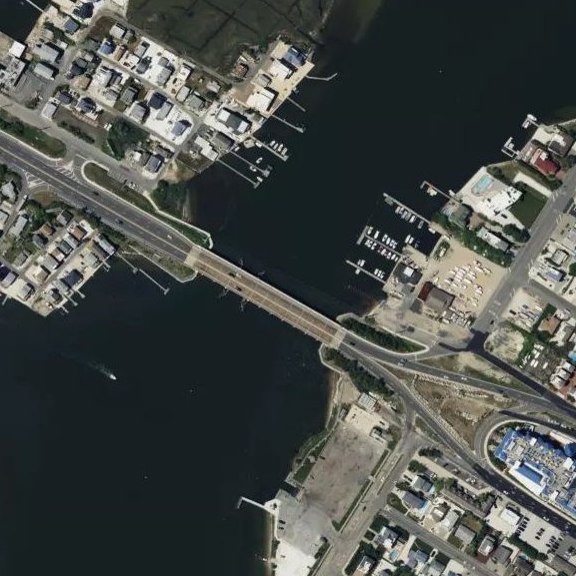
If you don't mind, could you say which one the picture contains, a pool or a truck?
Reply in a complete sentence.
Of the two, only a pool appears.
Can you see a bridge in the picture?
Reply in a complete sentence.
Yes, the image includes a bridge.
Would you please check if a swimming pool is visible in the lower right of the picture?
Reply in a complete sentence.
Yes, there is a swimming pool in the lower right of the picture.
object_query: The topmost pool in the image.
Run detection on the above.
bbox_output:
[475,171,493,192]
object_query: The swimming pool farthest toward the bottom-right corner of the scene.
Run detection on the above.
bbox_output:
[517,465,542,486]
